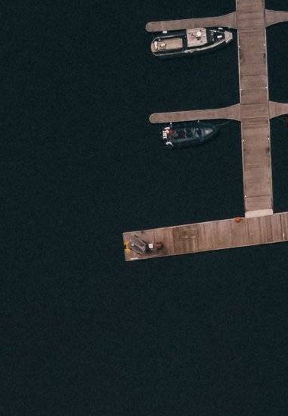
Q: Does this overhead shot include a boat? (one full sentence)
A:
Yes, the frame does contain a boat.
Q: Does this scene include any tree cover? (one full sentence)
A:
No, there is no tree cover in the image.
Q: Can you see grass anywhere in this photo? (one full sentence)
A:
No, there's no grass in this view.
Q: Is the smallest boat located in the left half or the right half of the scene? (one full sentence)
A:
You can find the smallest boat on the right side of the picture.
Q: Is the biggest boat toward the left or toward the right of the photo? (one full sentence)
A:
The biggest boat is on the right side of the image.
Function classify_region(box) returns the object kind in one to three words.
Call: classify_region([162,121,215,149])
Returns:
boat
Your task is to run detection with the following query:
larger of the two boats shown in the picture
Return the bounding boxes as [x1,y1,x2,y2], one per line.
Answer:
[151,27,232,59]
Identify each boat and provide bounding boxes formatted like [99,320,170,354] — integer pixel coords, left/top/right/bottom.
[151,27,232,59]
[162,121,215,149]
